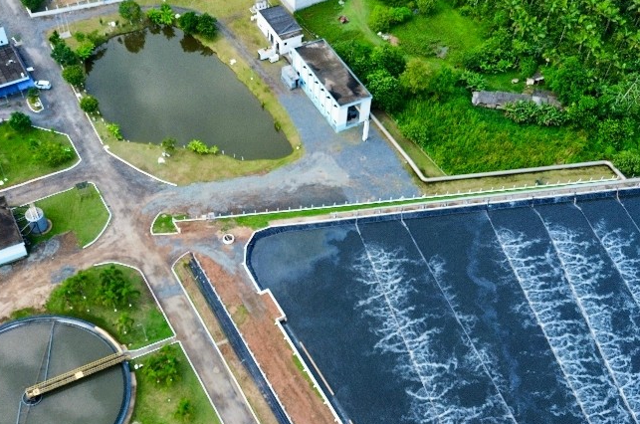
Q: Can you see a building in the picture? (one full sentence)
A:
Yes, a building can be made out from above.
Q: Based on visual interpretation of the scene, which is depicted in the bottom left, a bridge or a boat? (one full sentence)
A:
Visible in the bottom left is a bridge.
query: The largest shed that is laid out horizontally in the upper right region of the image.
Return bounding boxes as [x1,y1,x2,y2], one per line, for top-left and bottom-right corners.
[474,87,550,115]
